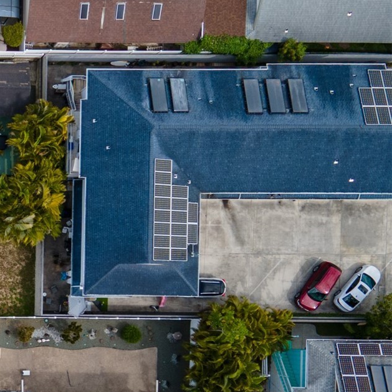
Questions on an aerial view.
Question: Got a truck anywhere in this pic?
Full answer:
No, there isn't any truck down there.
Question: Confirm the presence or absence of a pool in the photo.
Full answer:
No, the picture doesn't show any pool.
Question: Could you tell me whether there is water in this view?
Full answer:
No, no water is visible.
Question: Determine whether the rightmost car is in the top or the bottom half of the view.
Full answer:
Seen from above, the rightmost car lies in the bottom half of the view.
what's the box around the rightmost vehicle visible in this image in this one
[331,263,379,314]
